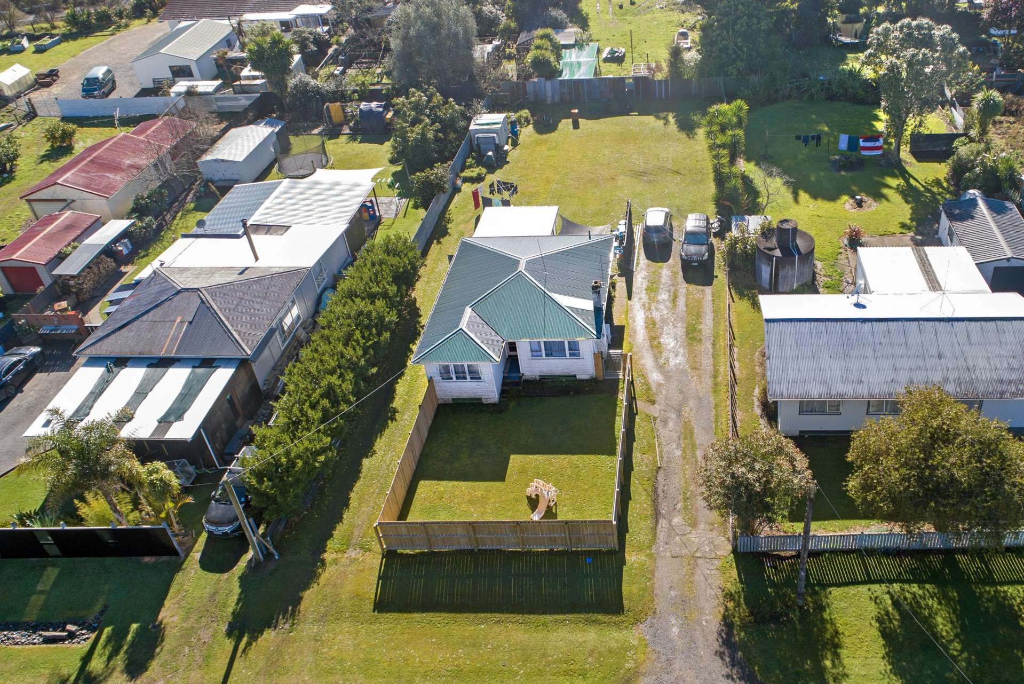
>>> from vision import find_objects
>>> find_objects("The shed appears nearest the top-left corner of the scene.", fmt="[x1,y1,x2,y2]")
[0,61,46,106]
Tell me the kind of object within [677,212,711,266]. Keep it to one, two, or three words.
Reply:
car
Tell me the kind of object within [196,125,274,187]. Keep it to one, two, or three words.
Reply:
shed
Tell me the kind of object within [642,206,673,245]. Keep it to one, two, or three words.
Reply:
car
